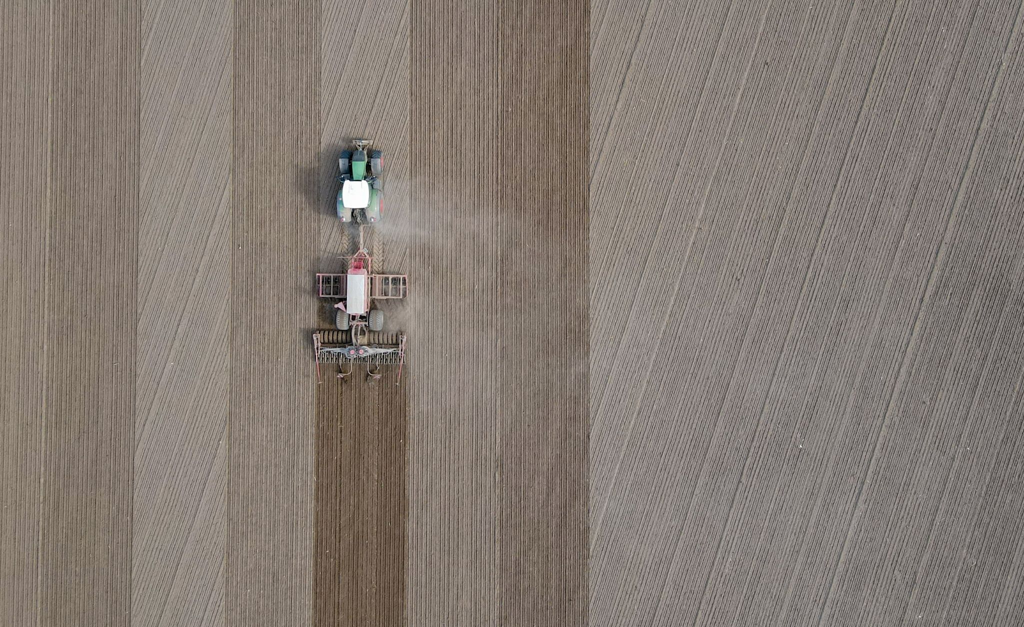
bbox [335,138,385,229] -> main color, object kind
white work vehicle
